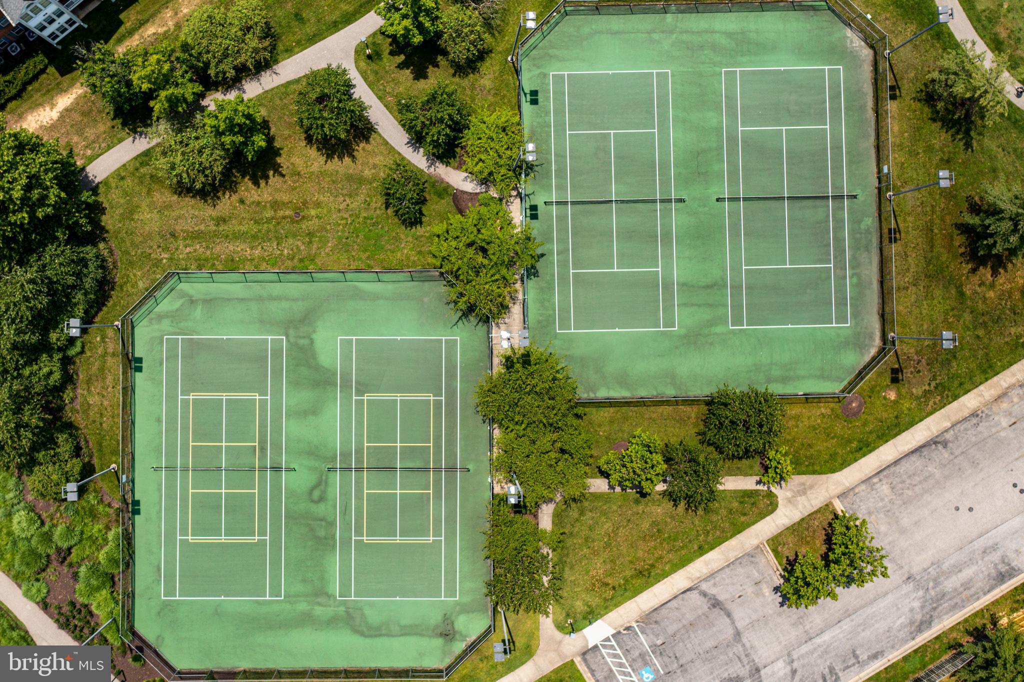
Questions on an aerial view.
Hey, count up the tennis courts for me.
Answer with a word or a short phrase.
four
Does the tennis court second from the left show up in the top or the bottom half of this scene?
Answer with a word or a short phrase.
bottom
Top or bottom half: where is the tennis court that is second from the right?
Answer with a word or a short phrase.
top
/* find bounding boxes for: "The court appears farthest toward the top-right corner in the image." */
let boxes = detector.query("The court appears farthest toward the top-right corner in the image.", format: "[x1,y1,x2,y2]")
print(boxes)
[723,67,850,328]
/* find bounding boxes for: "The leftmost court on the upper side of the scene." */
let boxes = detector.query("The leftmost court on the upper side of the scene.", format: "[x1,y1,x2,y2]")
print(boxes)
[551,70,677,332]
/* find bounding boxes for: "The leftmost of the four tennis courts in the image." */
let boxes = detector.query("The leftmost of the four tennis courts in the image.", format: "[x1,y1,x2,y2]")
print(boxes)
[162,337,285,599]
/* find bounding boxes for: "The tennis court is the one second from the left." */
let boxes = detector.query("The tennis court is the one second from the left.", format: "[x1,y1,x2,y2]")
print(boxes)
[338,338,459,599]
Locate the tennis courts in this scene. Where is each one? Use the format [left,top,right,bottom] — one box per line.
[723,67,850,328]
[551,70,677,332]
[162,337,285,599]
[338,338,459,599]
